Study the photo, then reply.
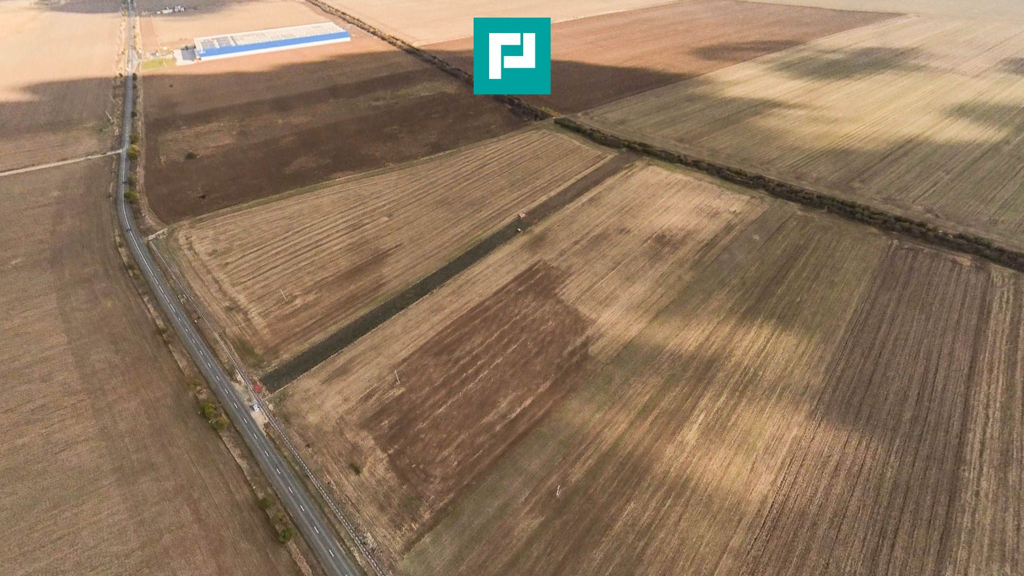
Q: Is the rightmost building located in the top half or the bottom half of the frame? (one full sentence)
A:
It is in the top half that the rightmost building appears.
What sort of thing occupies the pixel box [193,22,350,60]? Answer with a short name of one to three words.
building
